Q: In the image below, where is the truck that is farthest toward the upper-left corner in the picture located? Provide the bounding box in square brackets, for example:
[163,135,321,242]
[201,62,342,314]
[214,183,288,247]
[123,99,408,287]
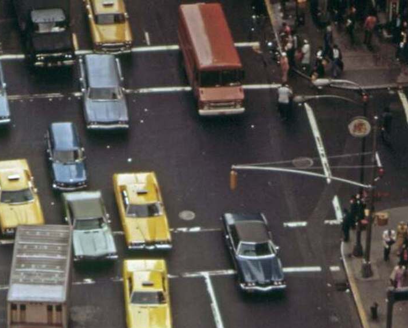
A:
[25,0,75,67]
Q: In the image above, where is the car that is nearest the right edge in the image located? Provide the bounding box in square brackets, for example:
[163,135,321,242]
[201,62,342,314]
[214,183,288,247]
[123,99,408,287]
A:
[221,213,285,290]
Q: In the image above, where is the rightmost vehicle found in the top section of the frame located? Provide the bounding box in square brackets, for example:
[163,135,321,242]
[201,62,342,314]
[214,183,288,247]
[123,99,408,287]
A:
[179,1,247,116]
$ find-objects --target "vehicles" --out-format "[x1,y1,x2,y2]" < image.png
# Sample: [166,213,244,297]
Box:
[6,223,68,328]
[83,0,132,53]
[60,189,117,260]
[0,160,42,233]
[221,213,285,290]
[25,0,75,67]
[179,1,247,116]
[113,174,172,250]
[43,122,87,189]
[122,259,172,328]
[79,56,128,129]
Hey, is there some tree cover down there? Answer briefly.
No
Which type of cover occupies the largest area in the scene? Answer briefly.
paved ground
